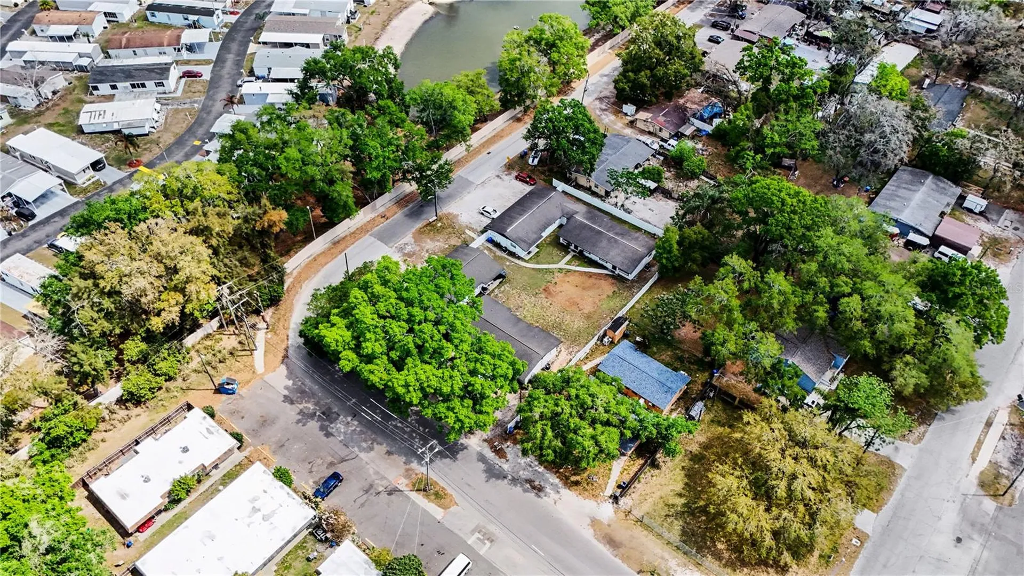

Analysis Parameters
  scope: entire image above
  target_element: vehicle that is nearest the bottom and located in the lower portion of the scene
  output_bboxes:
[437,550,470,576]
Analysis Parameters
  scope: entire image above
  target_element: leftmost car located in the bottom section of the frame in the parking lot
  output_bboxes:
[312,470,341,501]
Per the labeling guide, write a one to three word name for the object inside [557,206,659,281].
building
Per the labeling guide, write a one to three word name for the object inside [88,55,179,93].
house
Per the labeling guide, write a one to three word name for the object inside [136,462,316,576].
building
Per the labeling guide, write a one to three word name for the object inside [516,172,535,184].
vehicle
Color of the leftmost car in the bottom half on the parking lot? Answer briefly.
blue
